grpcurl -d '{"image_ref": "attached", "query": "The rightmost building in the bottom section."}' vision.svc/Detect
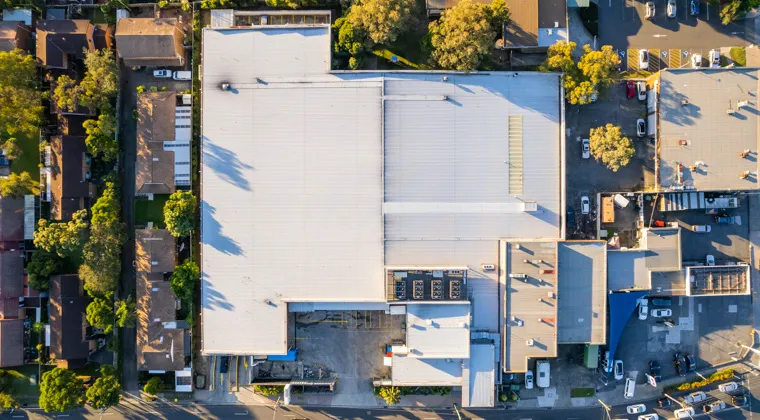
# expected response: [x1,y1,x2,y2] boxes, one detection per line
[680,262,750,296]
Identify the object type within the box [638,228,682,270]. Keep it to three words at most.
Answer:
building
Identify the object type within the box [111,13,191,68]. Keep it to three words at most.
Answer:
house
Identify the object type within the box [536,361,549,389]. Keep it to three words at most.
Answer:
vehicle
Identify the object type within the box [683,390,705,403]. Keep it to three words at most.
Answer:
vehicle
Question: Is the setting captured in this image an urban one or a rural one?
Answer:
urban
